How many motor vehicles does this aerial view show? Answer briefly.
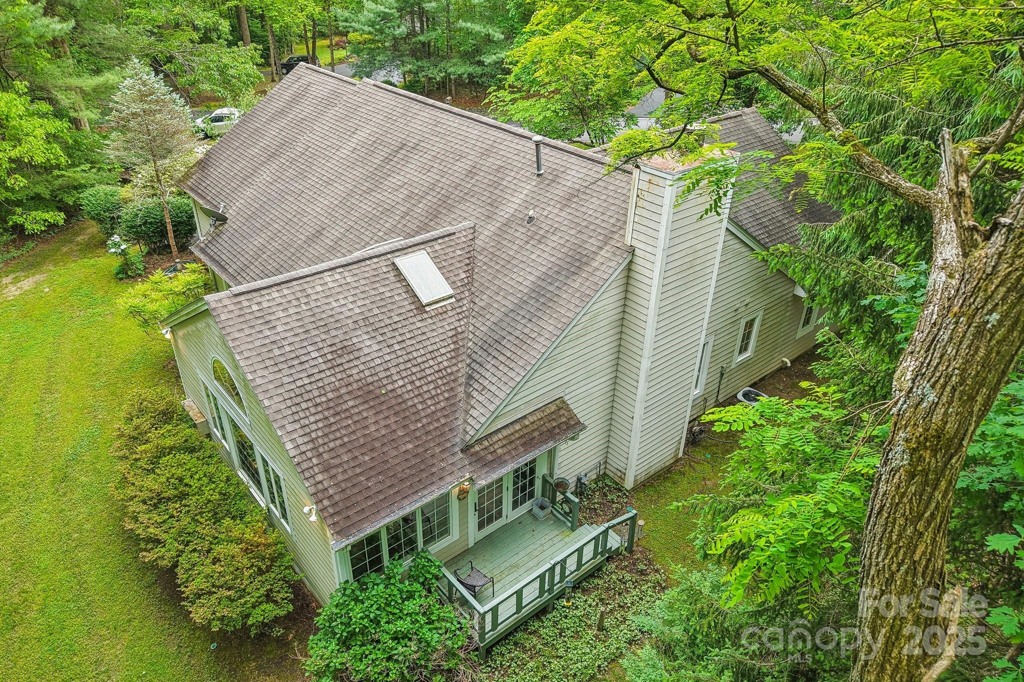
2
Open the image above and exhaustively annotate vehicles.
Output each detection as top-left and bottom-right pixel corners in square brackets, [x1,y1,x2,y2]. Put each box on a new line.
[188,104,250,137]
[271,39,335,68]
